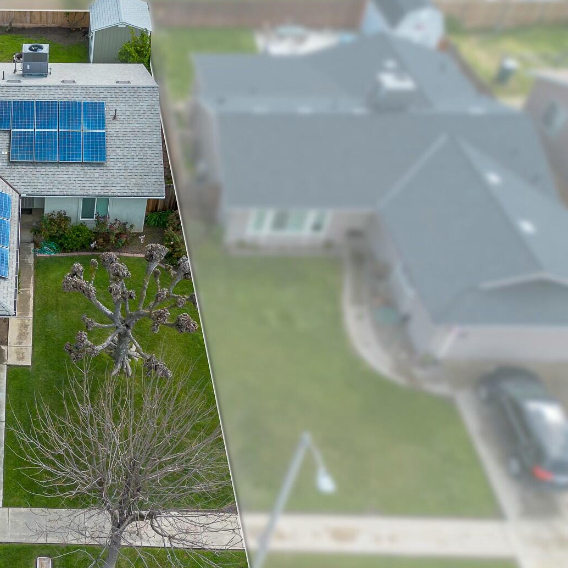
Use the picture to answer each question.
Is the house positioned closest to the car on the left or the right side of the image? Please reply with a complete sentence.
It is on the right.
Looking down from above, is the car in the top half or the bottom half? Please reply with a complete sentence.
The car is in the bottom half of the image.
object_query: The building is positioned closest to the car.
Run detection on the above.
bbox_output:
[188,25,568,365]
